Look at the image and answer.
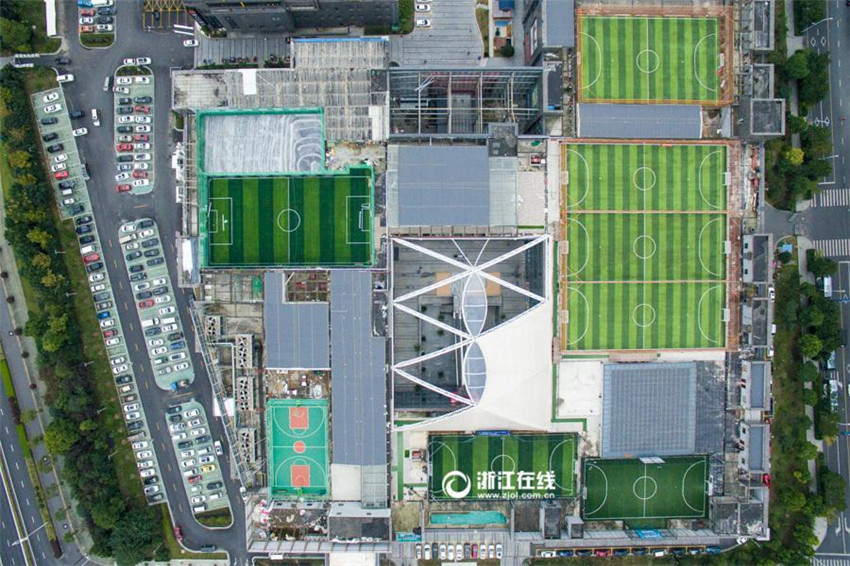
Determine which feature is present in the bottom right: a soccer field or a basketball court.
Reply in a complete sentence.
It is a soccer field that can be seen in the bottom right.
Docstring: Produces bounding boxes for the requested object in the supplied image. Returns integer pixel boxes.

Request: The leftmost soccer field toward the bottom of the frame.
[429,434,577,500]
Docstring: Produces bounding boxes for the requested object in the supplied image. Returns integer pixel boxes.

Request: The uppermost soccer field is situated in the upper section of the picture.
[580,17,719,101]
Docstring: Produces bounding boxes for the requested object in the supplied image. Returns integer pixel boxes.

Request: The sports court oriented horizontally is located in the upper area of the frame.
[197,115,324,172]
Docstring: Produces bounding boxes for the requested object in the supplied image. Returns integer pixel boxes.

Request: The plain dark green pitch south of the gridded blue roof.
[582,457,710,520]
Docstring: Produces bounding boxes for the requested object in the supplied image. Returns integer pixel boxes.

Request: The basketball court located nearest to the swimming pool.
[271,403,328,490]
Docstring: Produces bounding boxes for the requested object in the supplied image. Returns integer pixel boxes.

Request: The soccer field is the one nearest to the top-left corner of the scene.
[203,165,369,266]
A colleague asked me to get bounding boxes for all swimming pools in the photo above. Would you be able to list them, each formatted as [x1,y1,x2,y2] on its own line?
[428,509,509,527]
